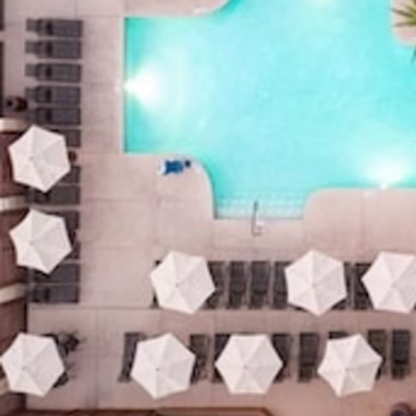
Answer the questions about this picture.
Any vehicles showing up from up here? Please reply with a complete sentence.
No, there isn't any vehicle down there.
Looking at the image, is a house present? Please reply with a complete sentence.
No, no house is visible in the view.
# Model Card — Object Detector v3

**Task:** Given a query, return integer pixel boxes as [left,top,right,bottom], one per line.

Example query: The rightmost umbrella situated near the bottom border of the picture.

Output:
[318,332,383,396]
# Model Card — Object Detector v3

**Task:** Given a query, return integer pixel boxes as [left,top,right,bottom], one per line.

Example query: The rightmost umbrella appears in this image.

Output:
[363,251,416,314]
